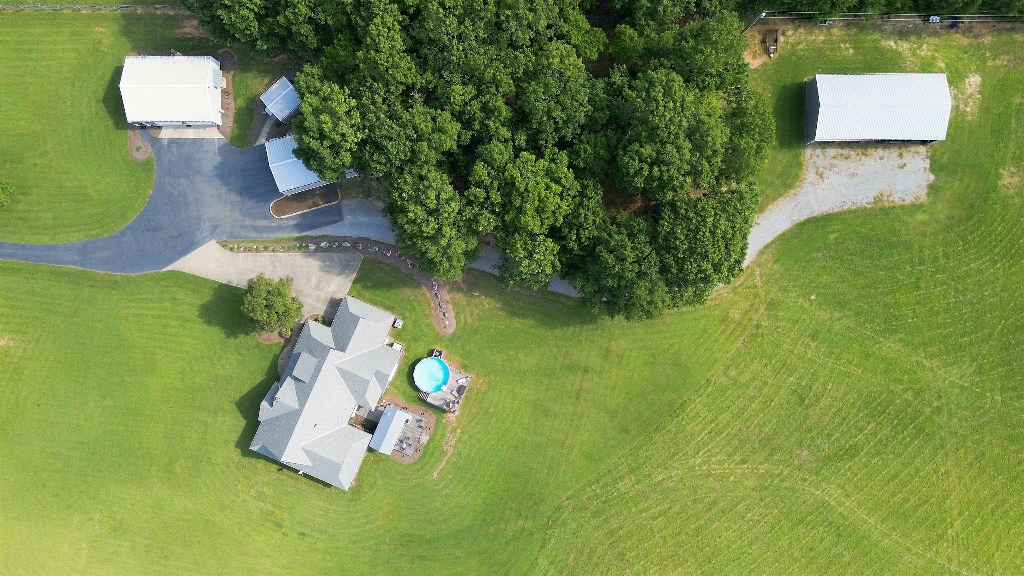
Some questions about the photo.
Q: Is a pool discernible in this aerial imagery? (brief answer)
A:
Yes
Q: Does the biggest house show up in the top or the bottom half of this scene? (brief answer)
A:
bottom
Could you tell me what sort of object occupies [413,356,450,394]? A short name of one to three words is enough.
swimming pool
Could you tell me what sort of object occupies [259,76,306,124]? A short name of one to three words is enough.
shed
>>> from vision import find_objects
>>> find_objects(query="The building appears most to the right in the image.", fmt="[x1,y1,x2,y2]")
[806,73,952,149]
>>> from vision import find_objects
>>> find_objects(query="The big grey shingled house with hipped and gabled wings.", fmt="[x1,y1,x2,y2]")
[250,294,402,492]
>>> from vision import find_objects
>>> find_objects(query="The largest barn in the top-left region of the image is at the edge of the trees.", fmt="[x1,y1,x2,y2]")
[119,54,228,130]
